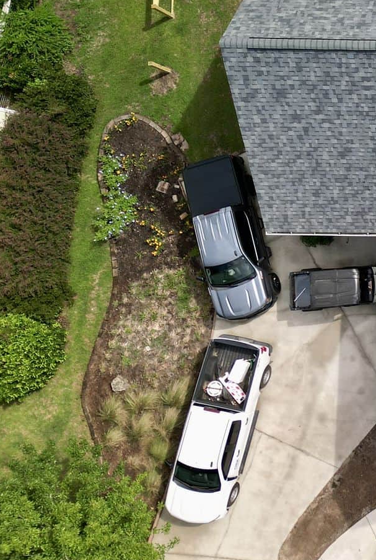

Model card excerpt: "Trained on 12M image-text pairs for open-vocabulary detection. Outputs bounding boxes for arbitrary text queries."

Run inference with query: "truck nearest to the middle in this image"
[178,153,276,321]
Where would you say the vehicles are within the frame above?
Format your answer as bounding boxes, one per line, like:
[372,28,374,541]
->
[286,261,376,309]
[158,328,273,528]
[178,153,276,321]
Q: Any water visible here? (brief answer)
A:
No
